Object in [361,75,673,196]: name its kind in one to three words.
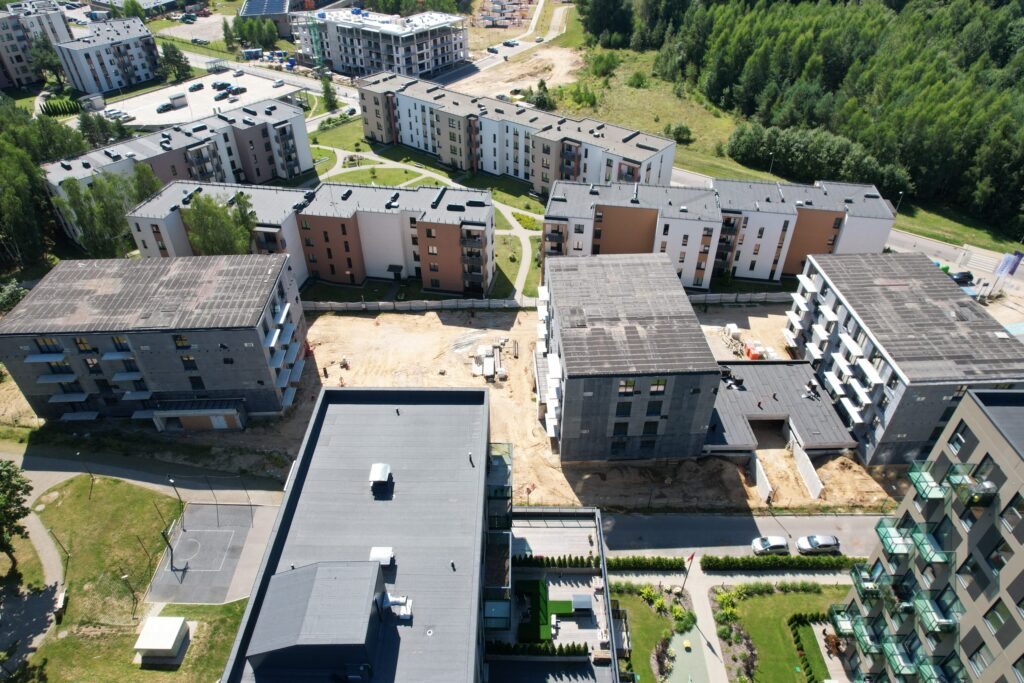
building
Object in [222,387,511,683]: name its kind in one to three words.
building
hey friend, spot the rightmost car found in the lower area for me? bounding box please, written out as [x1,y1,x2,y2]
[797,534,843,555]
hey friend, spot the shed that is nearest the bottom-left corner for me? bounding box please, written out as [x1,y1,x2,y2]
[135,617,199,668]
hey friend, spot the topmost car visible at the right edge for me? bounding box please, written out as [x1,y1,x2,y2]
[947,269,978,282]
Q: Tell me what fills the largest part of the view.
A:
buildings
